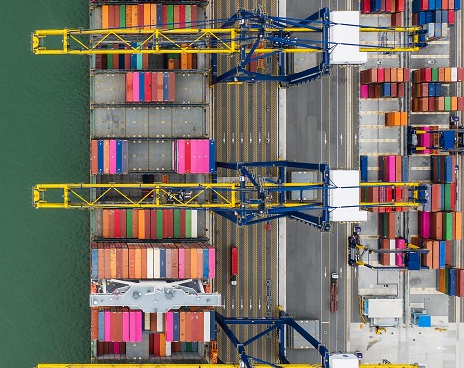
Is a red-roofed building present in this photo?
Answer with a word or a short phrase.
No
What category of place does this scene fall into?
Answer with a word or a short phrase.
port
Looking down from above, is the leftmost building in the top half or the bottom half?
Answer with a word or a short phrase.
bottom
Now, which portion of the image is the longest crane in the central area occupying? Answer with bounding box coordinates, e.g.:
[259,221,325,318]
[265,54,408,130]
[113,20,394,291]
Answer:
[29,158,433,227]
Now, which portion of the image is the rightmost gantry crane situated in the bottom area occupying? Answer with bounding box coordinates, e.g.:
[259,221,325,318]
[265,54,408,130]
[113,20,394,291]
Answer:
[352,237,432,272]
